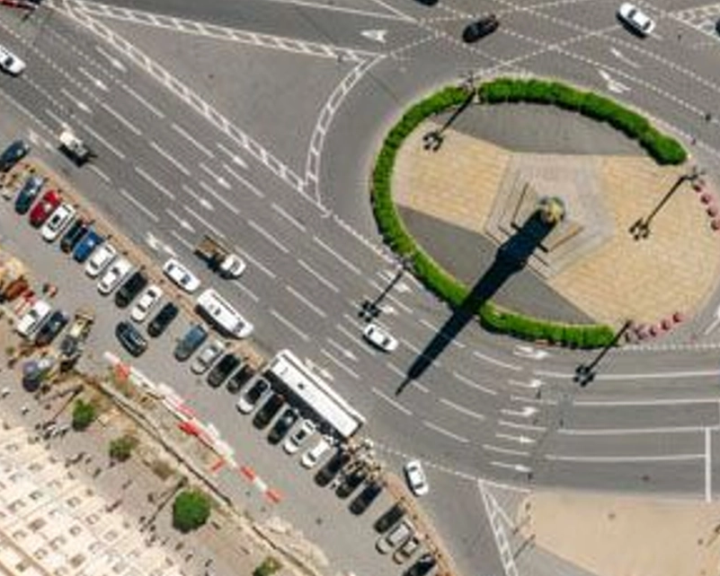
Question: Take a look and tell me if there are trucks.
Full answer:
Yes, the image includes a truck.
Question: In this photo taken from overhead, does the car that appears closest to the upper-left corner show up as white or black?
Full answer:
The car that appears closest to the upper-left corner is white.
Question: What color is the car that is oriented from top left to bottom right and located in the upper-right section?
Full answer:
In this view, the car that is oriented from top left to bottom right and located in the upper-right section is white.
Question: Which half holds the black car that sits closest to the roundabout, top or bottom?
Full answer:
You can find the black car that sits closest to the roundabout in the top half.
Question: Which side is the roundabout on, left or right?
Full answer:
The roundabout appears in the right half of the scene.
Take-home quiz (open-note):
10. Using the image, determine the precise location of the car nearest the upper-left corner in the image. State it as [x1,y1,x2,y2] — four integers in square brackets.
[0,44,28,75]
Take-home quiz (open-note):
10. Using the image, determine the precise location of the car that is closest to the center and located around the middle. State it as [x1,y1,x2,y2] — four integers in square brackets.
[362,322,400,351]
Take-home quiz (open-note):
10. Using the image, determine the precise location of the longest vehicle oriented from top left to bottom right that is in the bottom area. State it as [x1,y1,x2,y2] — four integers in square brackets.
[264,341,370,441]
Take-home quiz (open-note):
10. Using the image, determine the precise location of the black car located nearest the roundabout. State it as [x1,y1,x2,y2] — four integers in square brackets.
[462,16,501,42]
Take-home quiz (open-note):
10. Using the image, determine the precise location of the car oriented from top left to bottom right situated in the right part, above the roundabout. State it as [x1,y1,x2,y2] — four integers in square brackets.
[618,3,654,36]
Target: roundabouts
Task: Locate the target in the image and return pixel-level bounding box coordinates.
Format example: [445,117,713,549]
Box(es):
[367,71,720,353]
